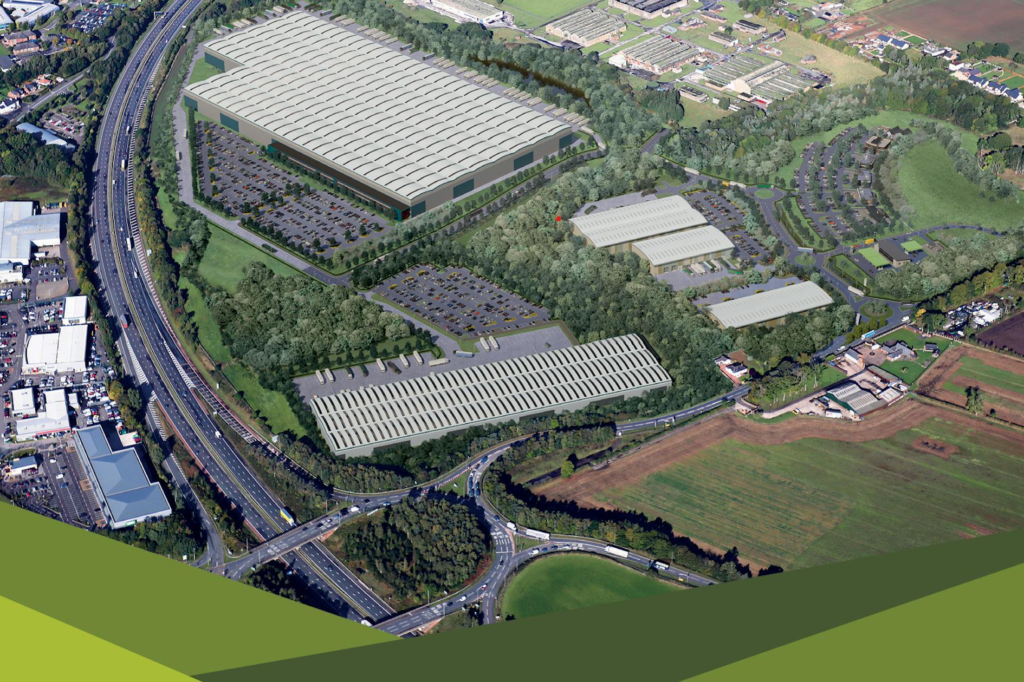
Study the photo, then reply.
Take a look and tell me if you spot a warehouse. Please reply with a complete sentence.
Yes, the frame does contain a warehouse.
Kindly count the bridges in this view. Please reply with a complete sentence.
In total, there are 2 bridges in the scene.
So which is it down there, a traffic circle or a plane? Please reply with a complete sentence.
This aerial view contains a traffic circle.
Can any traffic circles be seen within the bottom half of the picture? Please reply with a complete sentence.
Yes, I can see a traffic circle within the bottom half of the picture.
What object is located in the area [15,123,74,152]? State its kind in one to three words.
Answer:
building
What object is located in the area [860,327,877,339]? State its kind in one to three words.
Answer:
vehicle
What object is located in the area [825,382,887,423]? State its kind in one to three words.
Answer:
shed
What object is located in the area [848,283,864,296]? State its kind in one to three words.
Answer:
vehicle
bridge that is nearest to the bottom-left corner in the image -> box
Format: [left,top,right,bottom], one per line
[242,512,346,566]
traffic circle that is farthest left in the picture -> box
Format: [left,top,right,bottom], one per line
[207,487,512,665]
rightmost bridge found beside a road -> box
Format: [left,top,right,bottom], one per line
[330,600,444,656]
